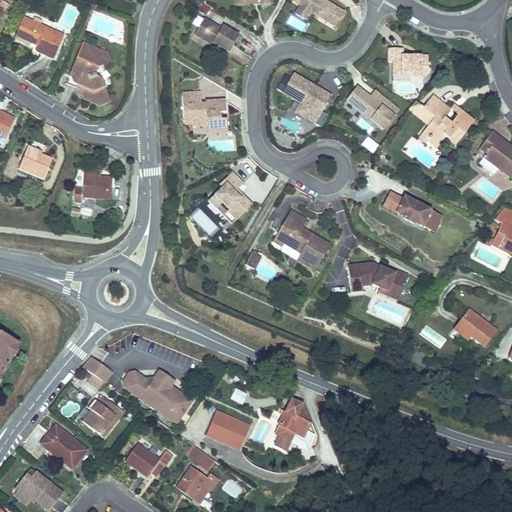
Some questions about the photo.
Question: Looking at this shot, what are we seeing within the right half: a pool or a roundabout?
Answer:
pool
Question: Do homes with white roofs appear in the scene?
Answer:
Yes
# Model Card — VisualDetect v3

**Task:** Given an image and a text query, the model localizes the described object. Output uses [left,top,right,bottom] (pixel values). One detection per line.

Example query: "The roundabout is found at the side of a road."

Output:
[81,258,152,328]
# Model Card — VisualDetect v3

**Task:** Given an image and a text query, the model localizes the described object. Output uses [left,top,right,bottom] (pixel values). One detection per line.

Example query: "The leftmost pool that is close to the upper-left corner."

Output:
[58,4,80,34]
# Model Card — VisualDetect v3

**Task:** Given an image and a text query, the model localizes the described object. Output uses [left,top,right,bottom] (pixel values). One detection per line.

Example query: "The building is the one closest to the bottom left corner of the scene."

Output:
[14,468,68,512]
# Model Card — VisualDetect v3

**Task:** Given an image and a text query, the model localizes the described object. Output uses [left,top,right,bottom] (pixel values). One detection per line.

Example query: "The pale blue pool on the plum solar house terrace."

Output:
[254,256,283,282]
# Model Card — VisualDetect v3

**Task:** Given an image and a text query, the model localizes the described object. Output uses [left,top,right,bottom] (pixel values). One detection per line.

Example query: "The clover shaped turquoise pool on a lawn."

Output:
[60,400,80,418]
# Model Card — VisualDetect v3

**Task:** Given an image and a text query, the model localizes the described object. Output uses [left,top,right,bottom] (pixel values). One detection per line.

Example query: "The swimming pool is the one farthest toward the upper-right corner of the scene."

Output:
[393,70,432,100]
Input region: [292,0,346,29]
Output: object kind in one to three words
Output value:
house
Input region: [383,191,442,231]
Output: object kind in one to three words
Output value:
house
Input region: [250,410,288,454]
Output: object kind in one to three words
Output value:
swimming pool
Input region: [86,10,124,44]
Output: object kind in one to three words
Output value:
swimming pool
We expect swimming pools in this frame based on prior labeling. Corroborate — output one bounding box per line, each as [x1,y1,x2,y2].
[402,137,439,169]
[470,241,512,272]
[470,176,502,204]
[58,4,80,34]
[393,70,432,100]
[86,10,124,44]
[254,256,283,282]
[250,410,288,454]
[366,294,411,328]
[204,128,236,152]
[356,118,378,134]
[285,14,310,34]
[60,400,80,418]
